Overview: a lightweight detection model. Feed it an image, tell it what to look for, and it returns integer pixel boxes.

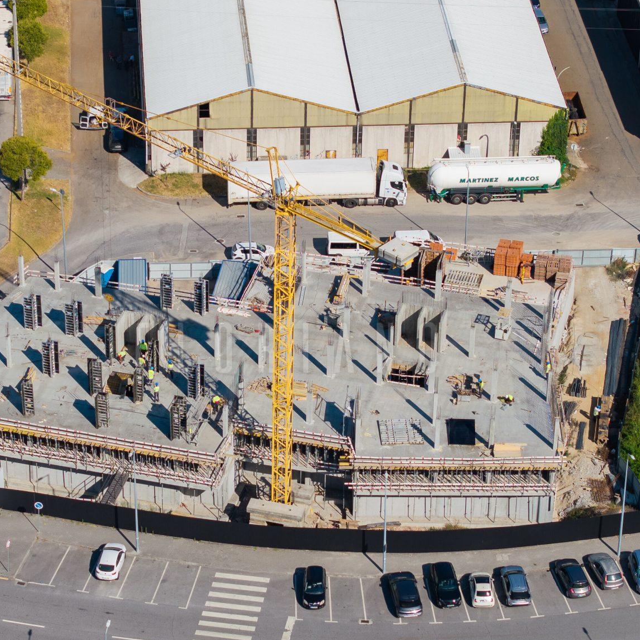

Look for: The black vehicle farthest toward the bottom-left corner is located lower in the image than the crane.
[301,565,328,607]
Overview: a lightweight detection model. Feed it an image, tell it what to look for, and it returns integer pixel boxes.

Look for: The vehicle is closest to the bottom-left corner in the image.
[96,544,127,583]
